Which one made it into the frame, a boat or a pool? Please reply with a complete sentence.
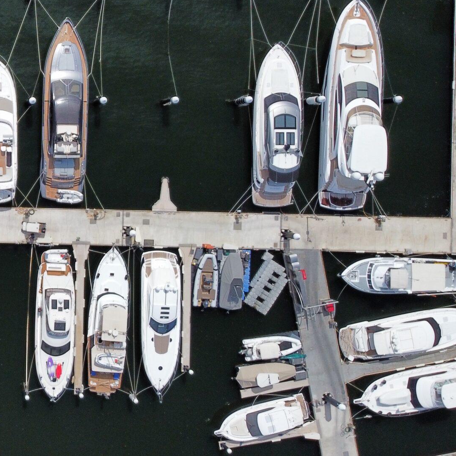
It is a boat that can be seen here.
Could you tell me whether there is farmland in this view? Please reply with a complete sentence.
No, there's no farmland in this view.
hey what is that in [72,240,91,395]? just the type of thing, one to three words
pier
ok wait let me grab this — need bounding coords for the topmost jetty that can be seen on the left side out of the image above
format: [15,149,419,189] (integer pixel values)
[150,178,177,212]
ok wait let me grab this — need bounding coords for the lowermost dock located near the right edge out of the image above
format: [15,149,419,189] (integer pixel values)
[284,250,456,456]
